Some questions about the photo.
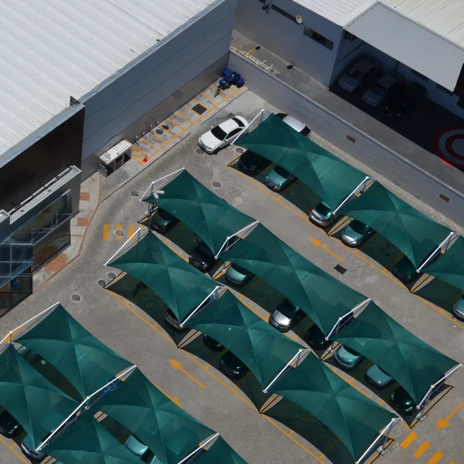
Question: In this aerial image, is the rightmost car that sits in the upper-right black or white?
black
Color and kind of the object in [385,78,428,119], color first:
black car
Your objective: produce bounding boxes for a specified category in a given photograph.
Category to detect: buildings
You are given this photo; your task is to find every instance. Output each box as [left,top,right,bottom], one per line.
[331,0,464,113]
[0,0,239,317]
